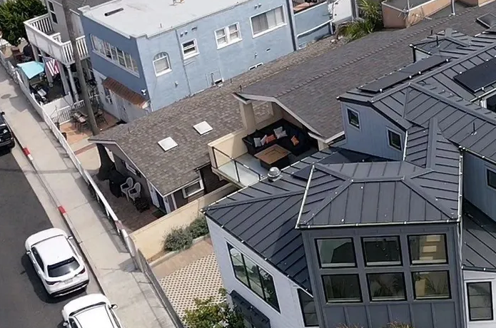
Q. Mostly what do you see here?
buildings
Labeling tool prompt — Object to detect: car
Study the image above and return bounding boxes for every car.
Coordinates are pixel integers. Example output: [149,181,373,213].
[54,290,127,328]
[20,225,94,299]
[0,108,22,154]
